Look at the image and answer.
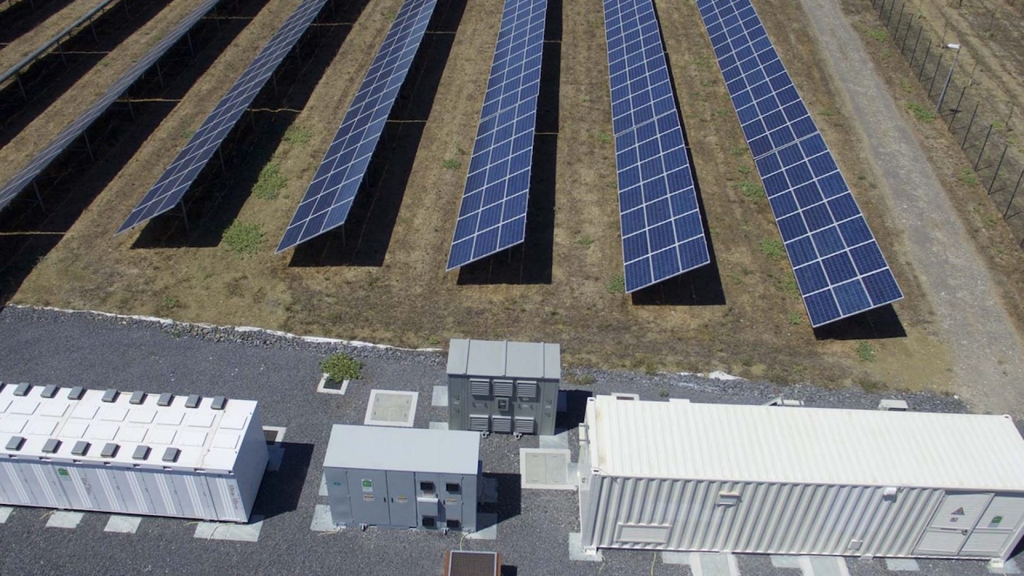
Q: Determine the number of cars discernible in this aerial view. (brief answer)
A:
zero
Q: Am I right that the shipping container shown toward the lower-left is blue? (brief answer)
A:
No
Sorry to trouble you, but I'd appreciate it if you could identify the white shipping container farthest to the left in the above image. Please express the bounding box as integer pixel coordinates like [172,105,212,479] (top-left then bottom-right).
[0,384,270,523]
